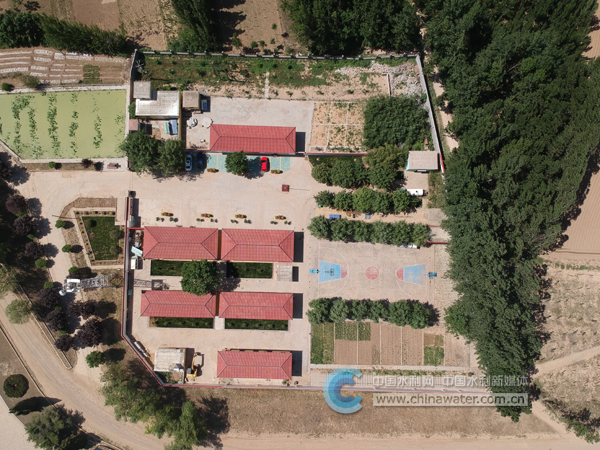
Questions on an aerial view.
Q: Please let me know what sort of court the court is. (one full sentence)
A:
It turns out the court is a basketball court.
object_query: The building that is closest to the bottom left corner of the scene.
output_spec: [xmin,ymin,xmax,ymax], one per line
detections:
[154,346,188,371]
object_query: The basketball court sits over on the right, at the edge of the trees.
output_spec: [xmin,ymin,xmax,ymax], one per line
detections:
[310,243,437,300]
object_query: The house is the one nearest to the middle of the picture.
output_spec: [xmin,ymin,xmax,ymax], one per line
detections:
[221,229,295,262]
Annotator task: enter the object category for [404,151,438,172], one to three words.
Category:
shed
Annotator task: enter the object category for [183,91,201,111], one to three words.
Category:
shed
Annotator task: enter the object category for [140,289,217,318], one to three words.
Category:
house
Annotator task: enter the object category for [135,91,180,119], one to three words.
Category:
building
